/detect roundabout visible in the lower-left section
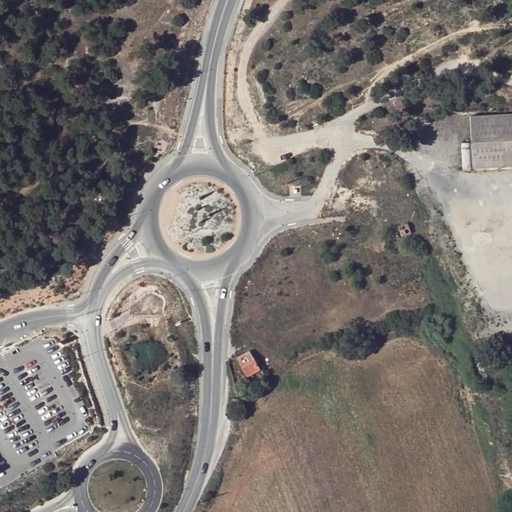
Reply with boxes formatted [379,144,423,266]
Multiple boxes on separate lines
[72,443,162,512]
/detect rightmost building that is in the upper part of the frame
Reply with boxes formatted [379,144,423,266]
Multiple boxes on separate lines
[470,114,512,170]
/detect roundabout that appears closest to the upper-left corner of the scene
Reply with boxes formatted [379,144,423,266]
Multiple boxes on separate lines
[143,160,257,274]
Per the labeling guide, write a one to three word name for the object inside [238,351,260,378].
house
